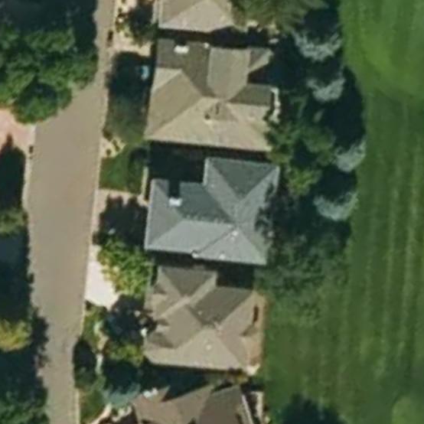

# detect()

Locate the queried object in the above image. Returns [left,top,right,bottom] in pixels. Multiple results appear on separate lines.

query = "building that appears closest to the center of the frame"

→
[145,156,282,270]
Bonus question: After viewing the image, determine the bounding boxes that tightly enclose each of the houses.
[142,38,276,152]
[142,268,263,374]
[145,156,282,270]
[149,0,240,30]
[134,388,248,424]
